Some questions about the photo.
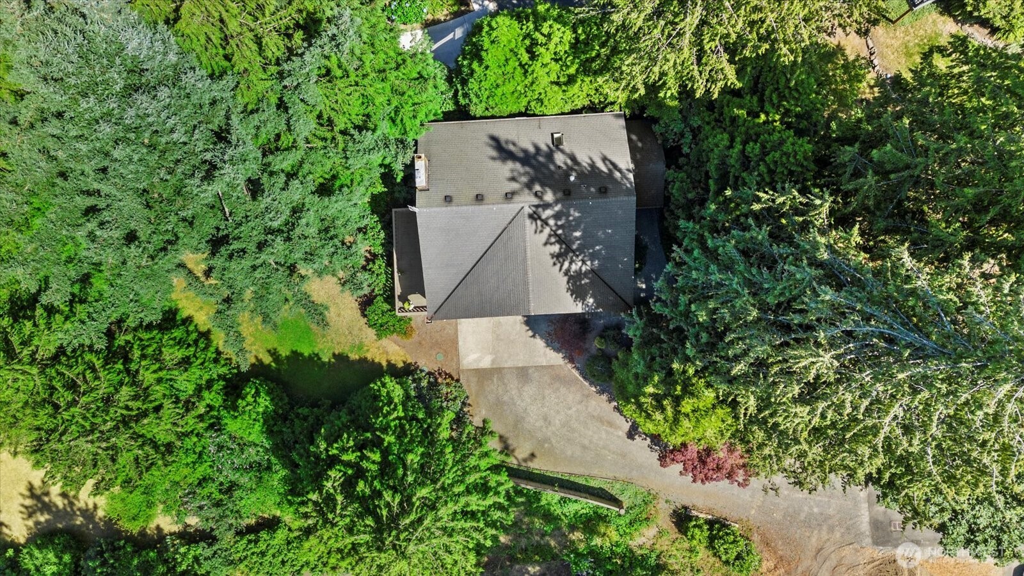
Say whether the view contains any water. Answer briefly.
No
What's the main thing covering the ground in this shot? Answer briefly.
trees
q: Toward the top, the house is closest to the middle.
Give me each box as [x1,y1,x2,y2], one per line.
[415,109,664,325]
